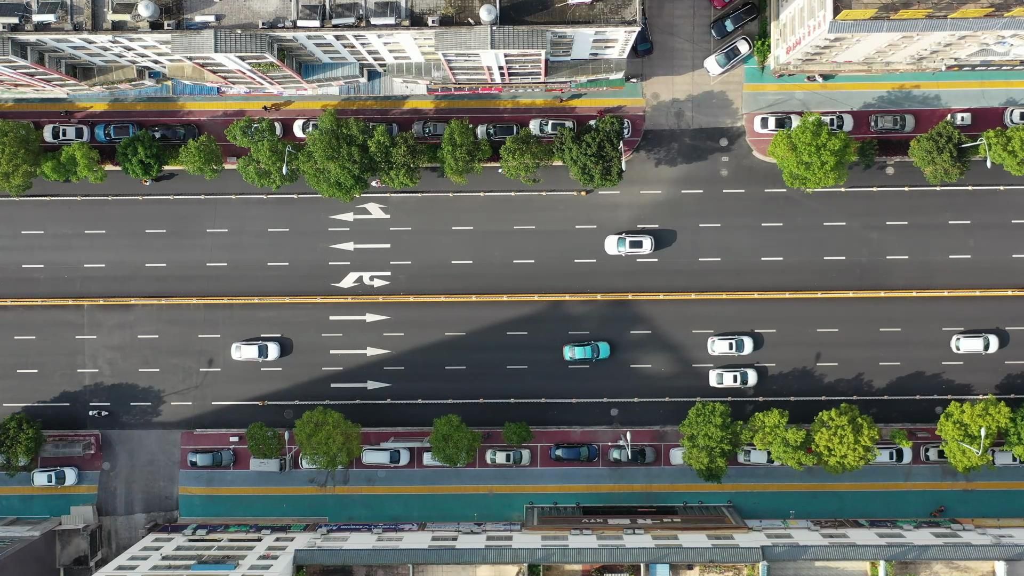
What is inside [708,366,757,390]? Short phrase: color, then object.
white car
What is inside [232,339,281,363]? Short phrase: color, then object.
white car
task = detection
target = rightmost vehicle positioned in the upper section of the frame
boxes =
[1003,106,1024,128]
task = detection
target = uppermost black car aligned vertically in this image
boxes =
[632,7,656,60]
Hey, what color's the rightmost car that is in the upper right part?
white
